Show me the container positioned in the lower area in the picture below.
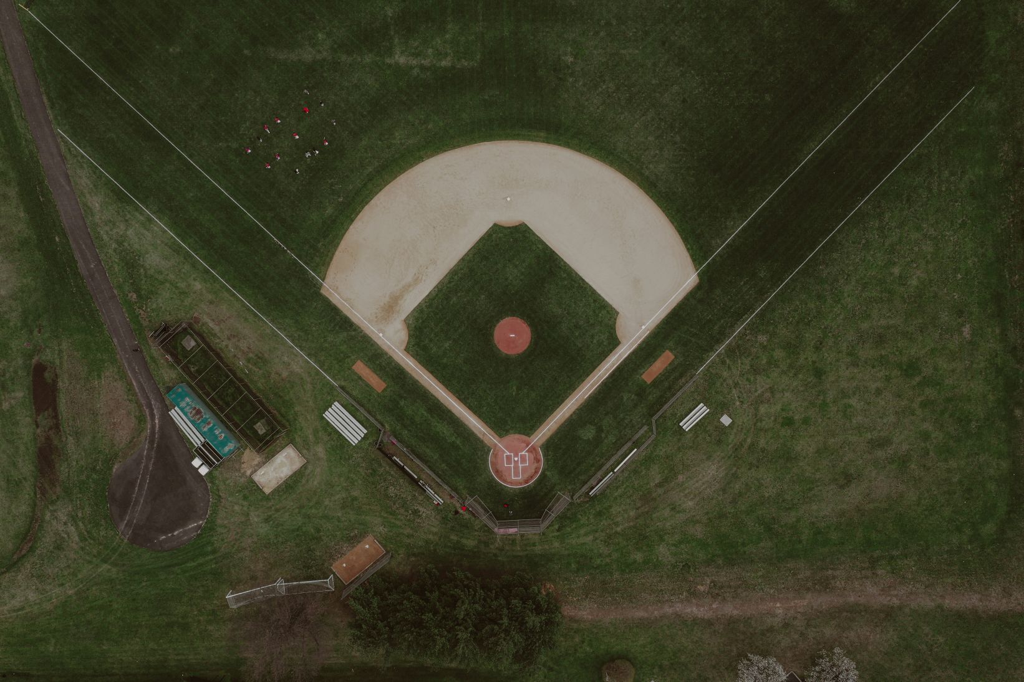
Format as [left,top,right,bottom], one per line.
[168,383,241,457]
